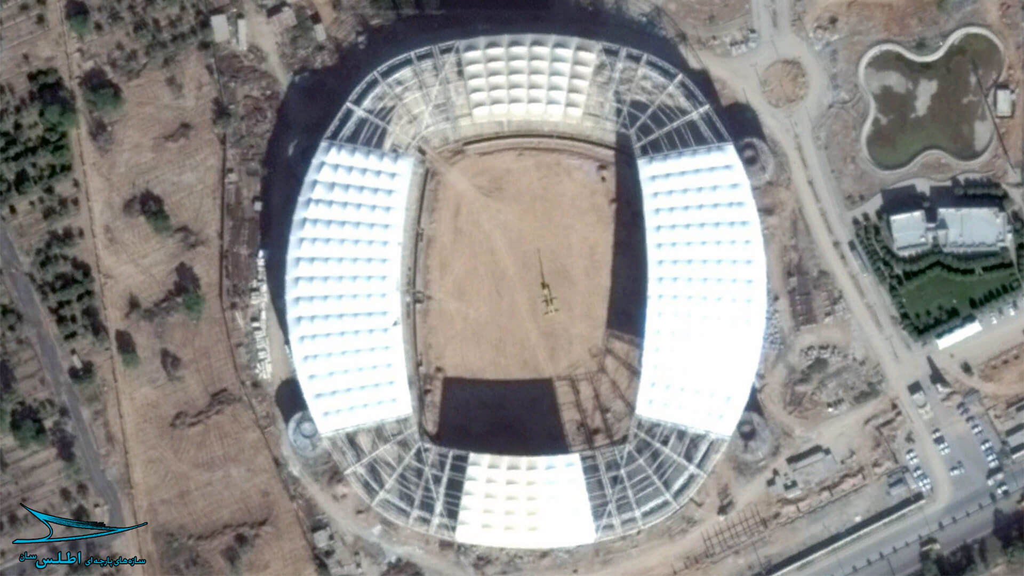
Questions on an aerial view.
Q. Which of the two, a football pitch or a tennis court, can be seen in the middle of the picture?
football pitch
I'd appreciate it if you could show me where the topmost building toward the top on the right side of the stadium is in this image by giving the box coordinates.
[996,89,1012,117]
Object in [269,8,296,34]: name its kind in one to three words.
shed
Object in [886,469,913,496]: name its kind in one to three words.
building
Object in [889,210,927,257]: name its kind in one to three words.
house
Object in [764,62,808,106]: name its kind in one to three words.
roundabout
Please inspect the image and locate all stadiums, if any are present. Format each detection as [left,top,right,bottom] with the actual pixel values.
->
[283,34,776,549]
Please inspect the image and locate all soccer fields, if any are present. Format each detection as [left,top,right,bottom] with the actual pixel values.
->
[416,142,636,454]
